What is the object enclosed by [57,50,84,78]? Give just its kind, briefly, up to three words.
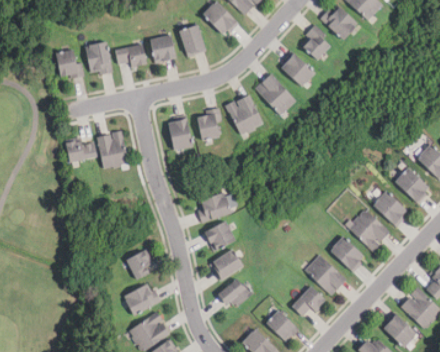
house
